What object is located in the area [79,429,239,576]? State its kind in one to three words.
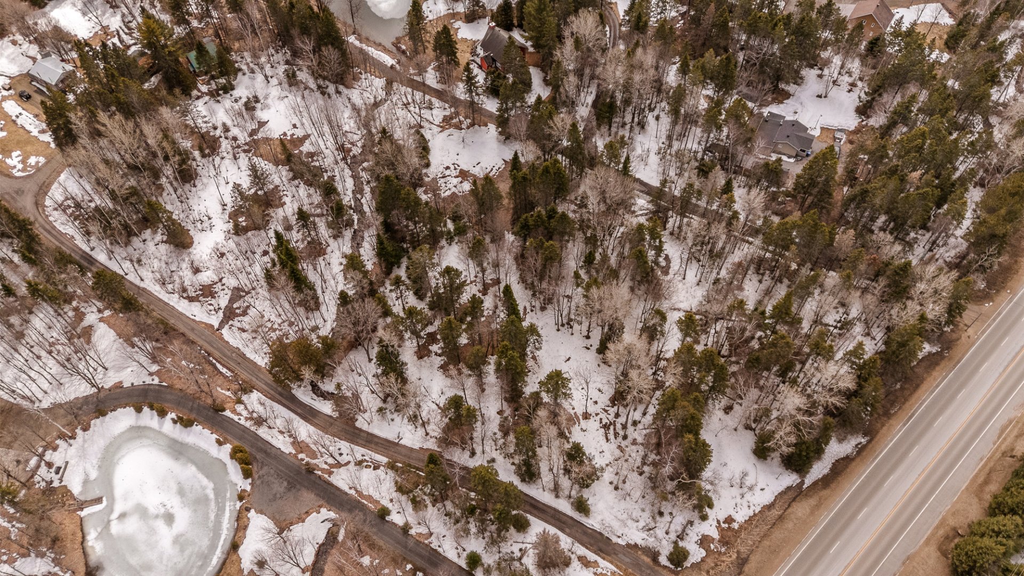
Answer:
pond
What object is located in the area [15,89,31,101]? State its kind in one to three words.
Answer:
vehicle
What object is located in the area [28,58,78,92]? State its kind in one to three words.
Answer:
house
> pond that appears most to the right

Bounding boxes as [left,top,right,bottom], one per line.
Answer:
[327,0,410,53]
